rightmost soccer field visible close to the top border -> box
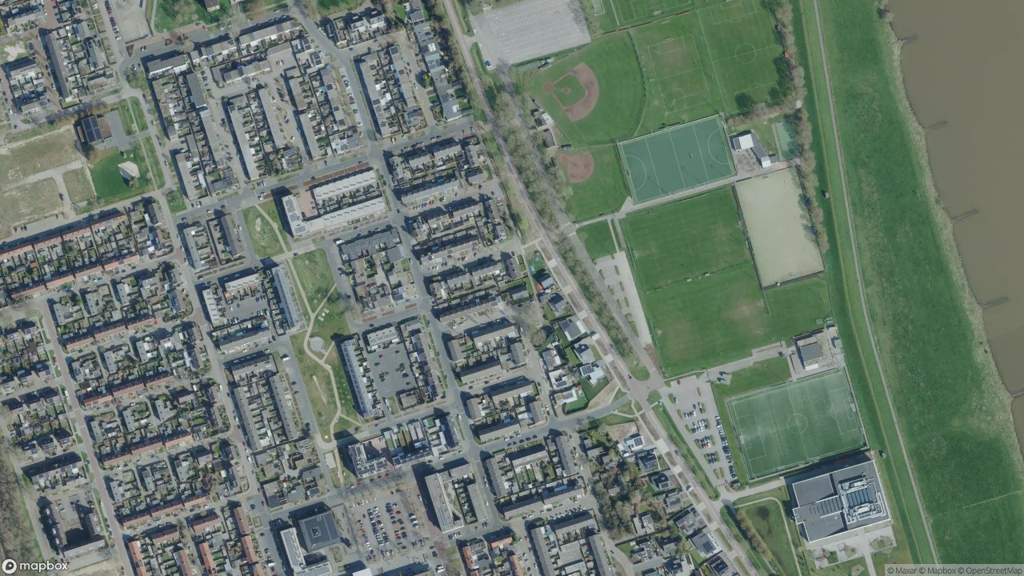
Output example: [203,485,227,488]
[695,0,800,112]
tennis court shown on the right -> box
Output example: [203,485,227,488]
[773,121,797,161]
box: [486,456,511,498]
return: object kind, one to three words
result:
house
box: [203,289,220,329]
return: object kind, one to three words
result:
building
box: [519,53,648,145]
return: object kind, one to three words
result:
baseball field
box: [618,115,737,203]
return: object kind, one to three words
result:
sports field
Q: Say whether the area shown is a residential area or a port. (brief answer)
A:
residential area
